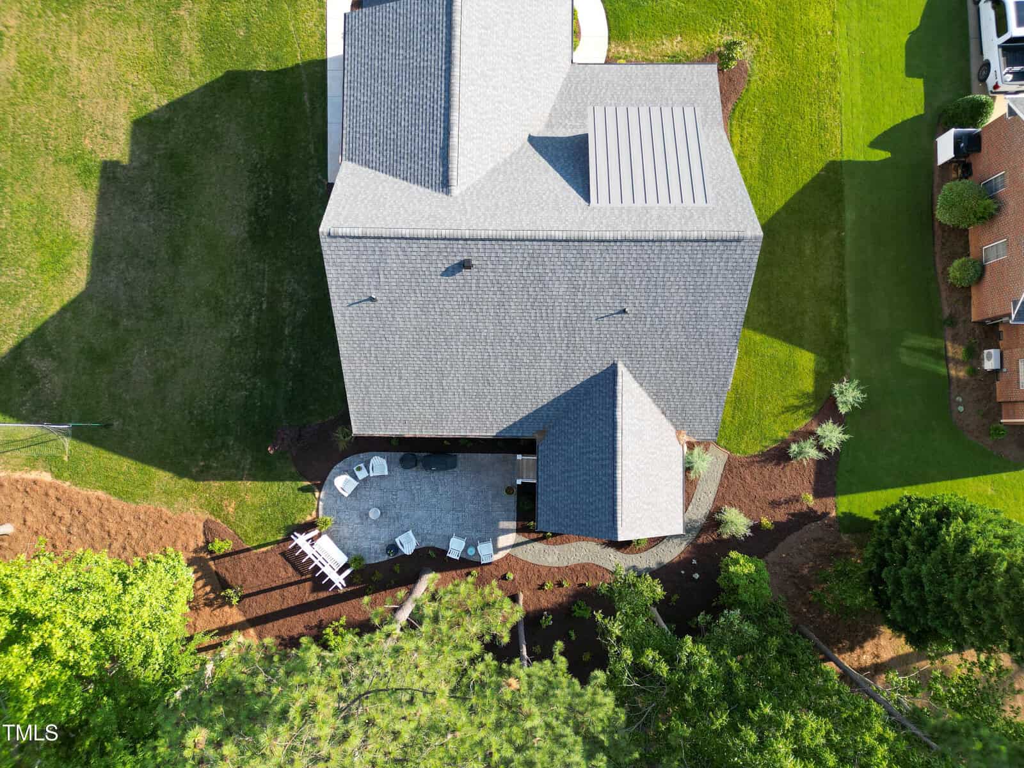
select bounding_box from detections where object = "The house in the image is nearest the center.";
[320,0,762,542]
